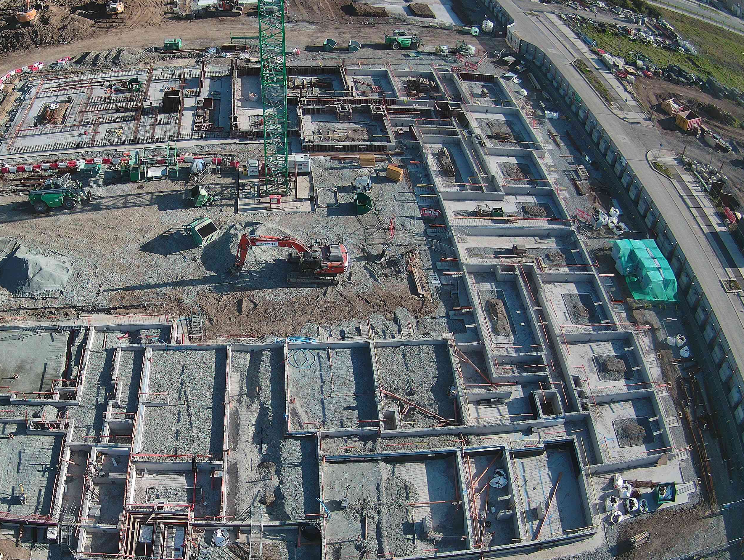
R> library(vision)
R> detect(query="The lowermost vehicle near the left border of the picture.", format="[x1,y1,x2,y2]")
[23,172,99,216]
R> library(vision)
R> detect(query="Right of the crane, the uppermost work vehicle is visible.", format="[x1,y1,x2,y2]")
[389,29,432,51]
